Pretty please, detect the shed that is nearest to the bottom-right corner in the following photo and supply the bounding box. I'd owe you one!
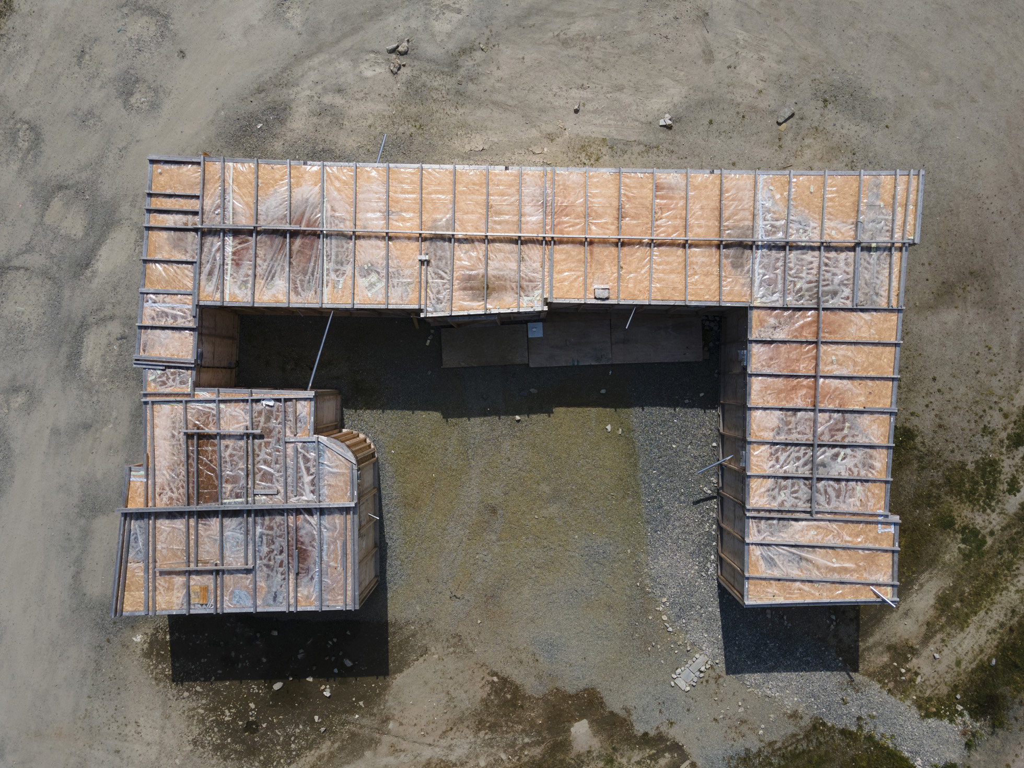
[697,293,905,608]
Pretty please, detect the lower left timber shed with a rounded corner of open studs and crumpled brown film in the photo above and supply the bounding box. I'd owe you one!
[112,386,380,618]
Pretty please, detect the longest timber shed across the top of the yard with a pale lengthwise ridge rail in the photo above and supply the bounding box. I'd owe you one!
[157,134,925,329]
